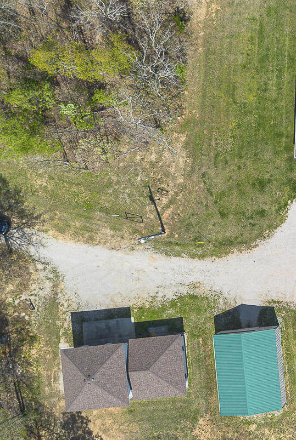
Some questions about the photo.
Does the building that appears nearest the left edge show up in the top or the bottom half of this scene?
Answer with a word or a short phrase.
bottom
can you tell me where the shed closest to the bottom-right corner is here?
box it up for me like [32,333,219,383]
[212,327,285,416]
